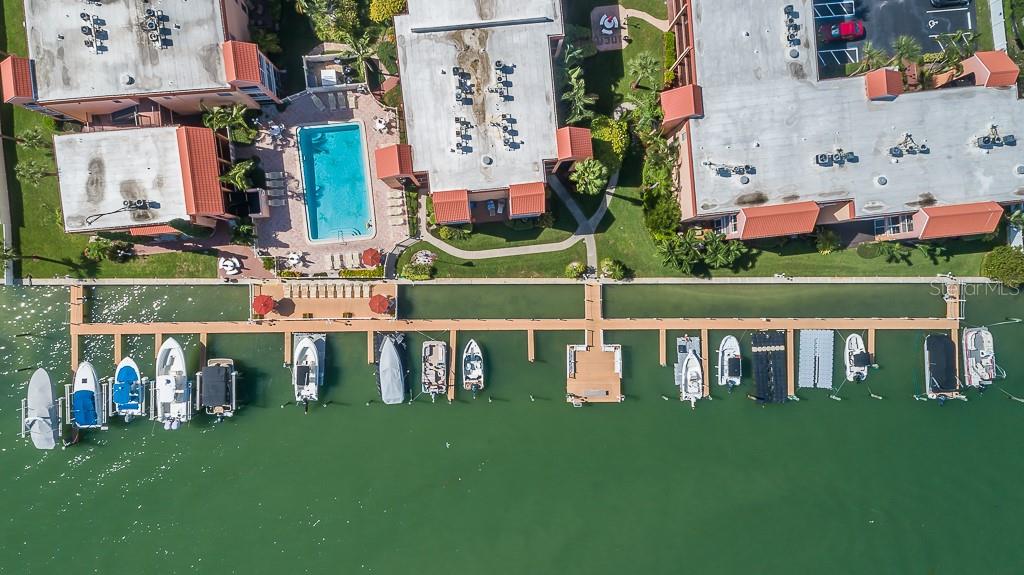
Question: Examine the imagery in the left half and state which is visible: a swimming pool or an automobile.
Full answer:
The one visible in the left half is a swimming pool.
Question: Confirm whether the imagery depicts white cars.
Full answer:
No, there isn't any white car down there.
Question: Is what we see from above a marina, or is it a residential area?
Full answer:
What you see here is a marina.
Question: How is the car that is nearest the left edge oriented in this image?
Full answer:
In this picture, the car that is nearest the left edge is oriented from side to side.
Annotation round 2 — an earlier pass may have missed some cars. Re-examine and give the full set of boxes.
[924,0,971,10]
[817,20,866,45]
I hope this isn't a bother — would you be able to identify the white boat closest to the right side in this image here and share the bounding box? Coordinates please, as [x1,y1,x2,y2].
[959,328,1002,389]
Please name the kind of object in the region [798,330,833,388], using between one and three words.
pier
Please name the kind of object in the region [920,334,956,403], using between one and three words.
boat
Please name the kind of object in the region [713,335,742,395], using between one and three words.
boat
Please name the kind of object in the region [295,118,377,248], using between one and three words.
swimming pool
